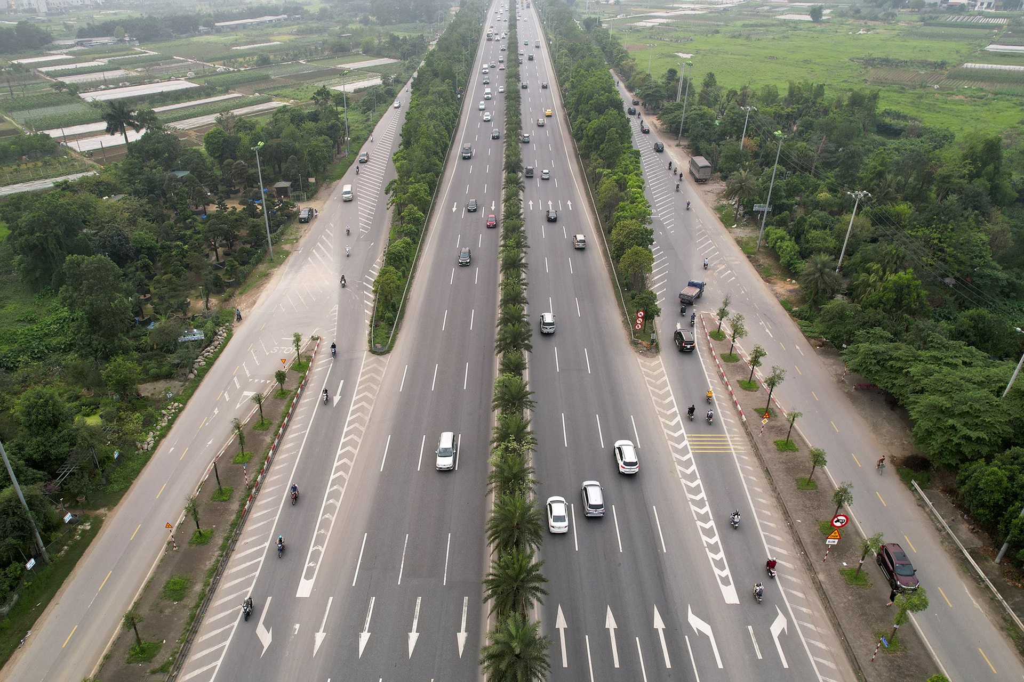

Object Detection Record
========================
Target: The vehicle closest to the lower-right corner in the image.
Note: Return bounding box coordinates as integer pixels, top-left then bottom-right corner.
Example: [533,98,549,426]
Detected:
[873,542,924,593]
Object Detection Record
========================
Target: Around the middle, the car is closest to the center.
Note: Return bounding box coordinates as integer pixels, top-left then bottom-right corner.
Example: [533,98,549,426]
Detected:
[538,314,556,334]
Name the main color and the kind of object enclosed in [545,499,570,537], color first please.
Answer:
white car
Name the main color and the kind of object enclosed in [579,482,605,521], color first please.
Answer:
gray car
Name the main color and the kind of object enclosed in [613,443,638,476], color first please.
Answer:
white car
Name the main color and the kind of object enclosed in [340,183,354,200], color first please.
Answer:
white vehicle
